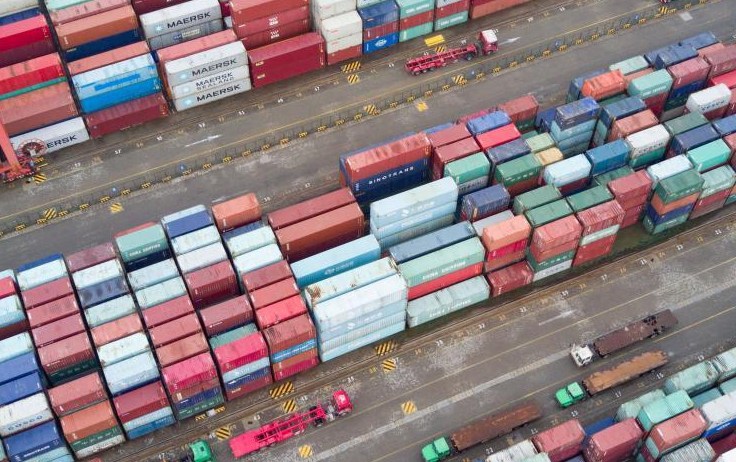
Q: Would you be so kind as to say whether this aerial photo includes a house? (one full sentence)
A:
No, the picture doesn't show any house.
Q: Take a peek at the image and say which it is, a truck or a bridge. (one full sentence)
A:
This aerial view contains a truck.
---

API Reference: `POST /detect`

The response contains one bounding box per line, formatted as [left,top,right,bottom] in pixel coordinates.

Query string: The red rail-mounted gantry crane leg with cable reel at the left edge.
[0,106,47,178]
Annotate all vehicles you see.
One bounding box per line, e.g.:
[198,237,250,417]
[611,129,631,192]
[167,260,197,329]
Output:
[417,401,542,462]
[550,348,671,413]
[180,440,214,462]
[229,389,356,458]
[563,309,680,371]
[405,31,502,78]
